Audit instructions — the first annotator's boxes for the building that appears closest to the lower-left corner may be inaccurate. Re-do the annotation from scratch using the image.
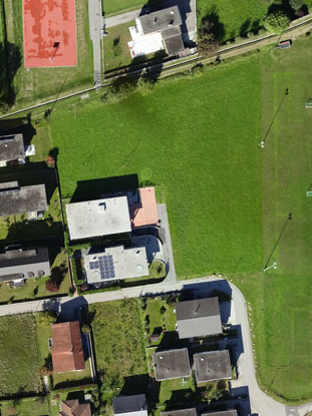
[59,394,92,416]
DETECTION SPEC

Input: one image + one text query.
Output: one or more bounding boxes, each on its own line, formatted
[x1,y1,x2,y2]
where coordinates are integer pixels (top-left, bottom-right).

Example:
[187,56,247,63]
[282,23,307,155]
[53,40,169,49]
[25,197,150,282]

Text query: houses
[66,196,133,240]
[175,296,224,339]
[153,348,191,381]
[160,407,198,416]
[49,320,86,373]
[202,409,238,416]
[0,245,52,282]
[128,7,185,59]
[0,134,27,161]
[113,393,149,416]
[84,246,150,283]
[0,181,50,216]
[194,350,231,383]
[59,394,92,416]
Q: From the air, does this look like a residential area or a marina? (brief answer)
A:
residential area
